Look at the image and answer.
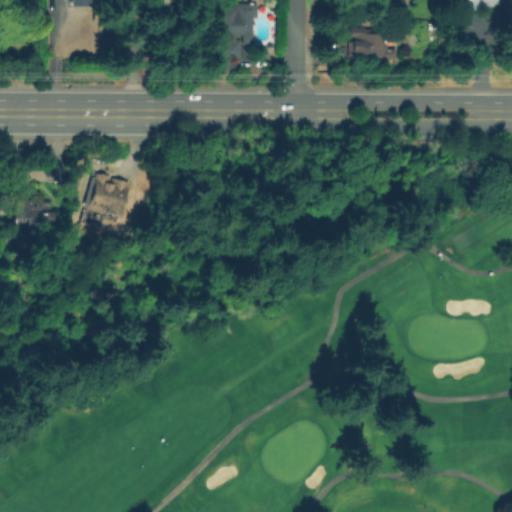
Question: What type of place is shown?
golf course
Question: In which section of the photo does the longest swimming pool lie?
top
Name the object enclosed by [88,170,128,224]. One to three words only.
house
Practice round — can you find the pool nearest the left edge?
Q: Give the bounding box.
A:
[255,5,276,47]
